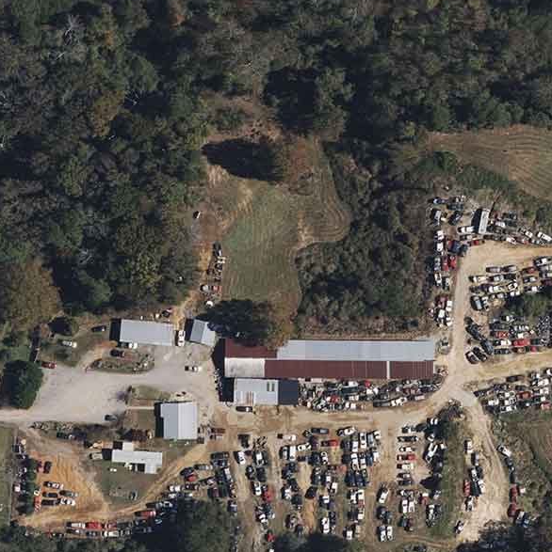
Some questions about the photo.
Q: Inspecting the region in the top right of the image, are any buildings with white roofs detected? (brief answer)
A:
No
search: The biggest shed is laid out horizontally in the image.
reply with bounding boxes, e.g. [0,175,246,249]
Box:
[225,339,437,379]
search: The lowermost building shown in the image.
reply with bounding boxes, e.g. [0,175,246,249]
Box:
[112,443,162,474]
